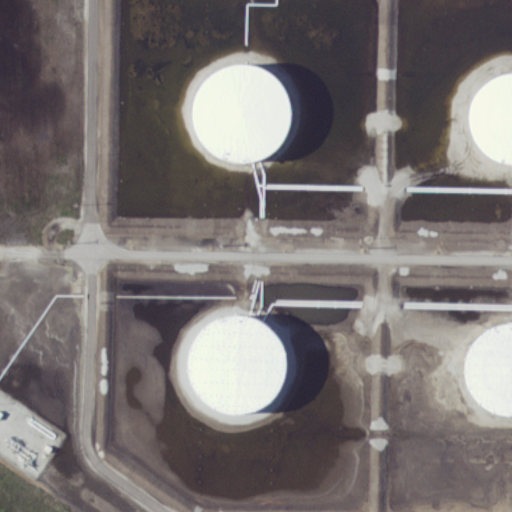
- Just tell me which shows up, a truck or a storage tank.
storage tank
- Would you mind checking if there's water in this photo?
Yes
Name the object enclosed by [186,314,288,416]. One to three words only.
storage tank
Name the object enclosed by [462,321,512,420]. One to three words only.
storage tank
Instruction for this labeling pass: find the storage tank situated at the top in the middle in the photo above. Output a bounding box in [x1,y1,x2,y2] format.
[192,64,292,166]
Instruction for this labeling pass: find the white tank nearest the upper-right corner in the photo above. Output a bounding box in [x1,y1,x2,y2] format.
[467,73,512,168]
